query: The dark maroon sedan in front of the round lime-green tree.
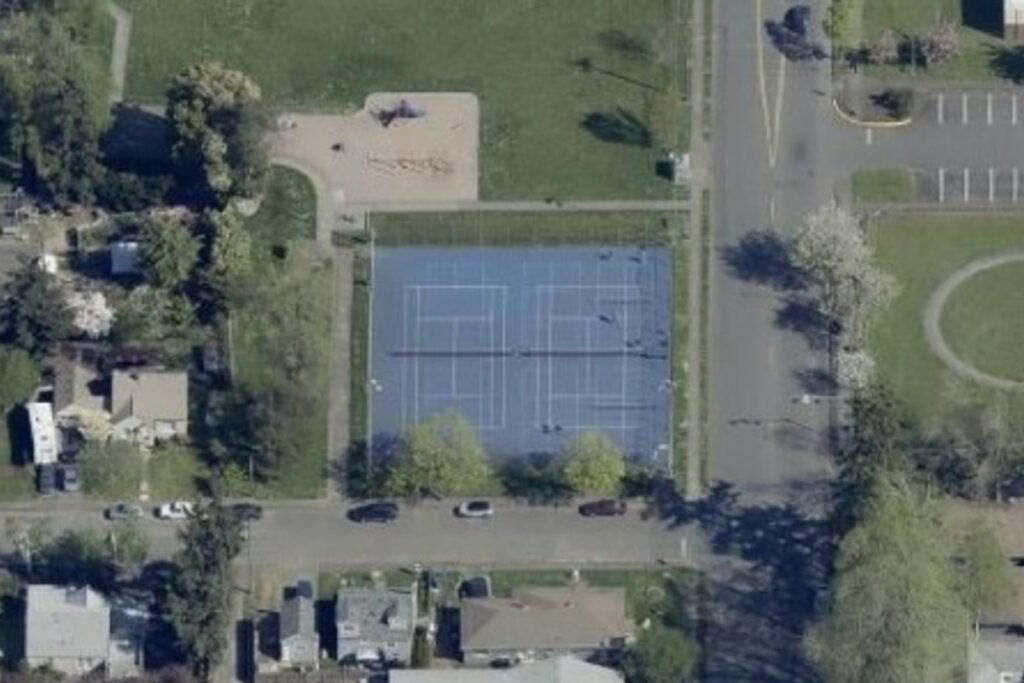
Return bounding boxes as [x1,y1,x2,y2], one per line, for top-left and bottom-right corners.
[581,503,626,522]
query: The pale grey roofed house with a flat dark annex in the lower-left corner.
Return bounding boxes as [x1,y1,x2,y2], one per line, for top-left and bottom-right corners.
[25,584,143,683]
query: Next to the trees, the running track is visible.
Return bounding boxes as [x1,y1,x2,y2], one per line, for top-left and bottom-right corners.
[926,256,1024,388]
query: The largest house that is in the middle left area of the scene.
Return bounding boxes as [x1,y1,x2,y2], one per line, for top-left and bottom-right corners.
[55,355,188,452]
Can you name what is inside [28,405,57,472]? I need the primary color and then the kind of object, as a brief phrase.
white trailer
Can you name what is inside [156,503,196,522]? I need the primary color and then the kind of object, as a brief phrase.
white car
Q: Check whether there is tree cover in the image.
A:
Yes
